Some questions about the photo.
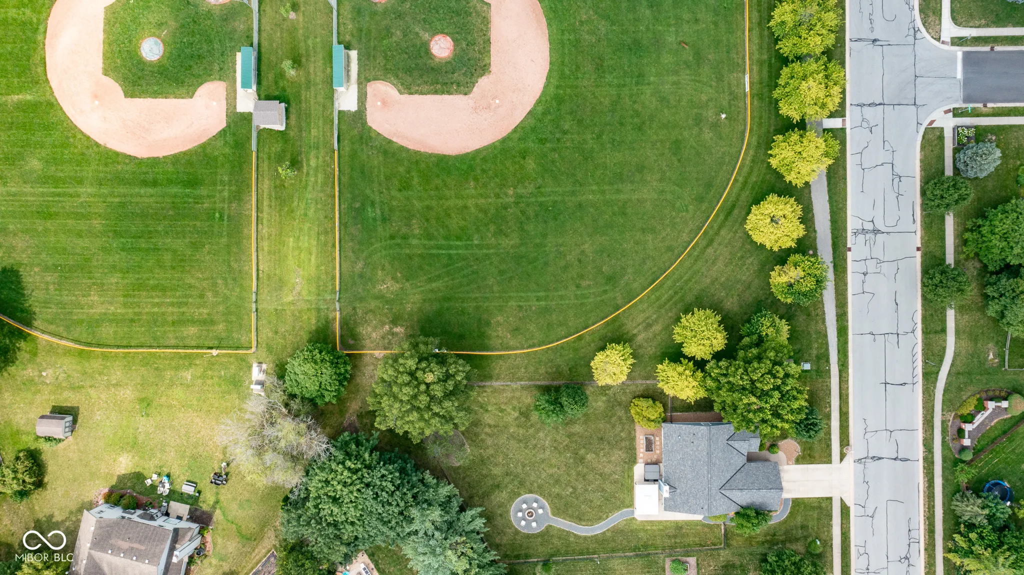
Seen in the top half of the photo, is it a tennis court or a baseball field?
baseball field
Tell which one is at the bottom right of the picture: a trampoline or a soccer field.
trampoline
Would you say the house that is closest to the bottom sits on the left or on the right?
left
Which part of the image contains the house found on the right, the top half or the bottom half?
bottom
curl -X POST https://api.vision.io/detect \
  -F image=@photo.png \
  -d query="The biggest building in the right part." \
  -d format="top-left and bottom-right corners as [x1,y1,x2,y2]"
[655,422,783,516]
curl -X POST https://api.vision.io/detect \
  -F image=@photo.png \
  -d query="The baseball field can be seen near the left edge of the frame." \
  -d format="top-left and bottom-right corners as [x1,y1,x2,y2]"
[0,0,257,350]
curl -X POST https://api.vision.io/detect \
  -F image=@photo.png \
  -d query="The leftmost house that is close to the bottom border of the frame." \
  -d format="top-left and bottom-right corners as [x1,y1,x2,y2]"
[72,502,206,575]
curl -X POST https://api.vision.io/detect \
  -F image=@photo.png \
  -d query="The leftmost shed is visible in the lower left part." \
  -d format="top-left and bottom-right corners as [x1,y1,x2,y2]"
[35,414,82,438]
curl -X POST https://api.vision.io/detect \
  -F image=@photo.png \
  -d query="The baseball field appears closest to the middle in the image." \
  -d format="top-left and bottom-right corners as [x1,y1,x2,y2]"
[338,0,748,352]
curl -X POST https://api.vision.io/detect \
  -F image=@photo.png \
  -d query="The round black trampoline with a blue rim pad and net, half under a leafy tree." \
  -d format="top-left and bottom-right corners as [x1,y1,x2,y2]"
[984,476,1020,506]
